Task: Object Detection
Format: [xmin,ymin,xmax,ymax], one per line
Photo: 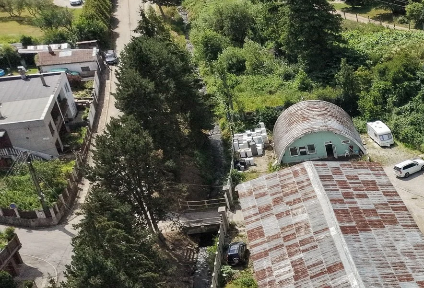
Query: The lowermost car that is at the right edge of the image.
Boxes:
[391,156,424,176]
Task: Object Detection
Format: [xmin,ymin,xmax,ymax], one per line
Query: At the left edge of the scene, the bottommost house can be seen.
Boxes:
[0,71,76,162]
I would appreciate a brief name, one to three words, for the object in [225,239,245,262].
car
